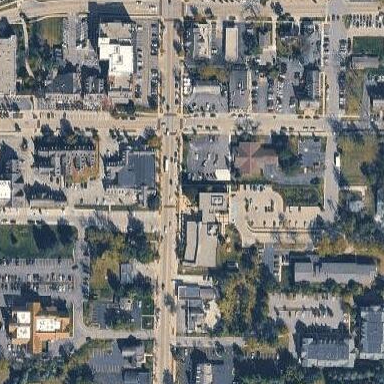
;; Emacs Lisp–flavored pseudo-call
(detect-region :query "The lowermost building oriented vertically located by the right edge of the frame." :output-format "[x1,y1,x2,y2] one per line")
[360,307,384,360]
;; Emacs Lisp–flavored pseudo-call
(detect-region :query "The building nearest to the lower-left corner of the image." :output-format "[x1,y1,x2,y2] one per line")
[8,301,69,354]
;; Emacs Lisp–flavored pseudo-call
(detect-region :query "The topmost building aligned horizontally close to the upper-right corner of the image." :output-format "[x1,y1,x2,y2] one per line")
[352,56,379,68]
